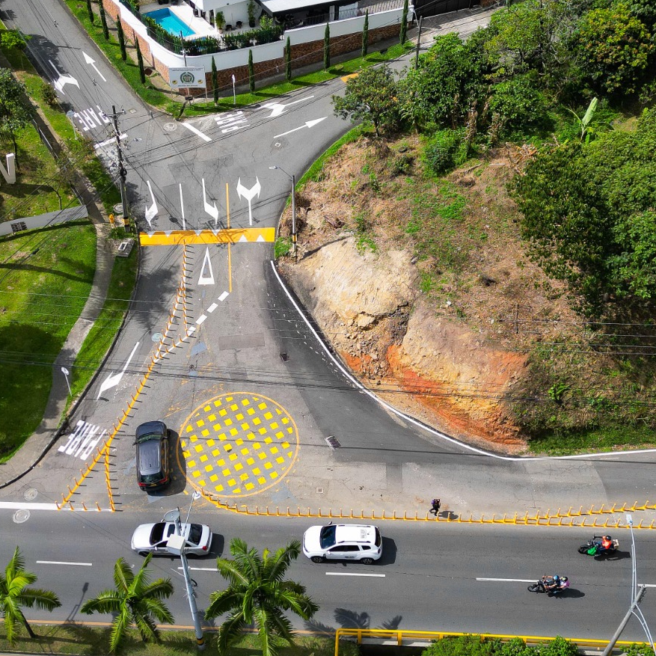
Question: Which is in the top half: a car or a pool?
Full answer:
The feature located in the top half is a pool.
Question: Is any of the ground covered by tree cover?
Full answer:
Yes, some tree cover is visible.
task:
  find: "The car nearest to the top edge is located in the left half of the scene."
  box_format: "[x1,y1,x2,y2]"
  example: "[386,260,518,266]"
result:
[131,416,172,489]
